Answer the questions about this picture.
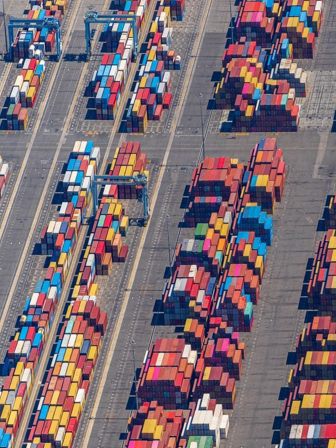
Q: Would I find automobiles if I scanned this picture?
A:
No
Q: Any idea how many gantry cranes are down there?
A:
3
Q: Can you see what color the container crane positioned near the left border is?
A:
blue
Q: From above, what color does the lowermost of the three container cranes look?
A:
blue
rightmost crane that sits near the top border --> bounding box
[81,11,138,63]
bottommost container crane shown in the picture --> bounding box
[88,169,149,225]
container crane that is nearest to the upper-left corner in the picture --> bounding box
[5,11,62,63]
